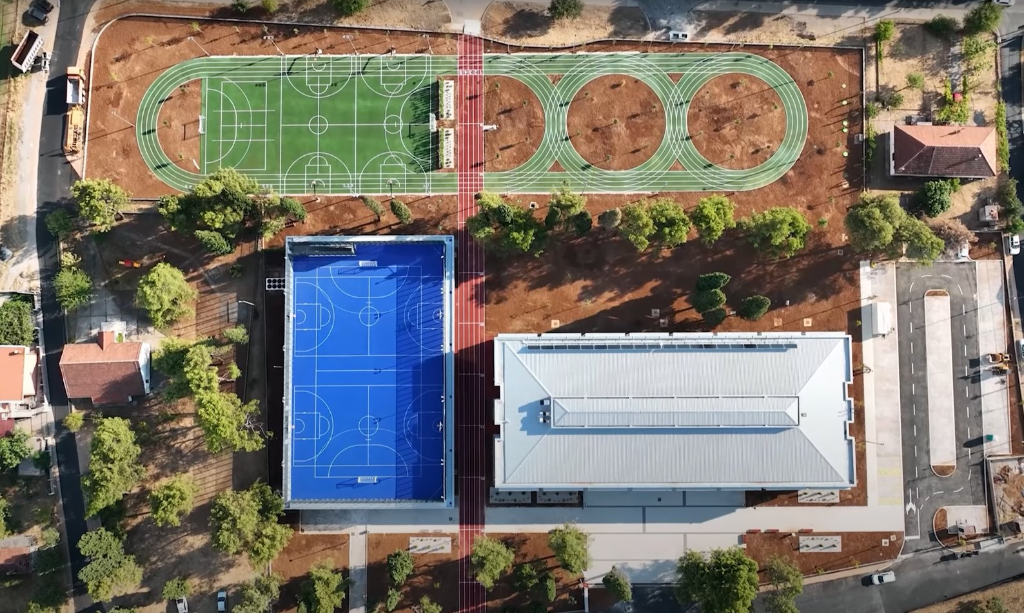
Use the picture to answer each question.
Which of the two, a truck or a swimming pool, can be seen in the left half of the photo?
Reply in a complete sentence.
Visible in the left half of the photo is a truck.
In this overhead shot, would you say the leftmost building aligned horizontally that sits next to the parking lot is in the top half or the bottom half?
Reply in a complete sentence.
The leftmost building aligned horizontally that sits next to the parking lot sits in the bottom half of the picture.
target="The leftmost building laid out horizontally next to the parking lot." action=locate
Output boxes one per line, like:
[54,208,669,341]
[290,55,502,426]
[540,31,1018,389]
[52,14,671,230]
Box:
[493,331,857,489]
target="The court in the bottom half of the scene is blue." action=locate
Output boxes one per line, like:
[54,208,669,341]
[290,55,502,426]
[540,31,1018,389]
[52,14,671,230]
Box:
[293,243,446,501]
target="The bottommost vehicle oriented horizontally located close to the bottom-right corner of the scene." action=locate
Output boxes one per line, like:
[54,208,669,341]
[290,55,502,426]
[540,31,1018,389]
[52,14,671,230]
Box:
[868,571,897,585]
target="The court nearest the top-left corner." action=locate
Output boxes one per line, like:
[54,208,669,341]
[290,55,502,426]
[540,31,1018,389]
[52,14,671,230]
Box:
[201,54,437,193]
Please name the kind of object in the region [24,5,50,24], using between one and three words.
car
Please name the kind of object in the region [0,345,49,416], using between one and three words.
building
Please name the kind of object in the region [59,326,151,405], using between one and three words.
house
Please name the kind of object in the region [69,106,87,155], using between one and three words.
vehicle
